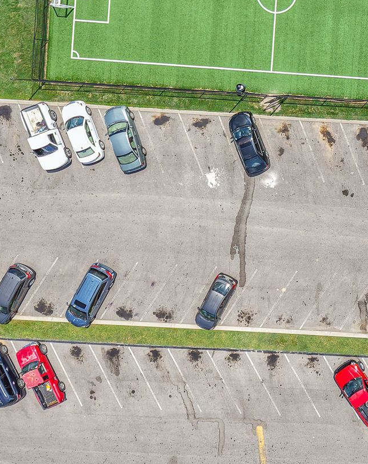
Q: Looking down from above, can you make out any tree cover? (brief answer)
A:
No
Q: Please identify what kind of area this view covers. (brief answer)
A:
parking lot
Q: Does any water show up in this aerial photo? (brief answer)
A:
No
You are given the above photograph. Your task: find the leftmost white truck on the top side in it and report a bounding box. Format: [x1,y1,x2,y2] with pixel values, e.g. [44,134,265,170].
[20,101,71,173]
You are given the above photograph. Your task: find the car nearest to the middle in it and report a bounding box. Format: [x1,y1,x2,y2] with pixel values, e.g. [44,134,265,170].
[195,271,239,330]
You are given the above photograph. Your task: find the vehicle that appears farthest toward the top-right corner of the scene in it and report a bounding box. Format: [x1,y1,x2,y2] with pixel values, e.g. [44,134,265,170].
[231,110,270,178]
